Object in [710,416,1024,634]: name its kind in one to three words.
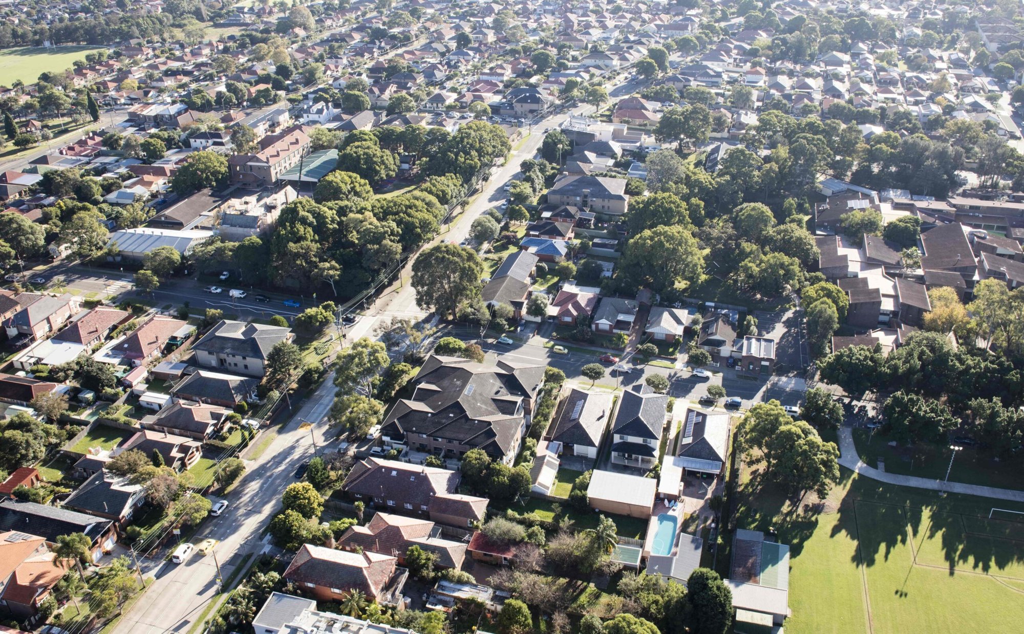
sports field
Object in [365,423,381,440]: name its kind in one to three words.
vehicle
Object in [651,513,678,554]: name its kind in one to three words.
swimming pool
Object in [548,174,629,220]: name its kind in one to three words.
building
